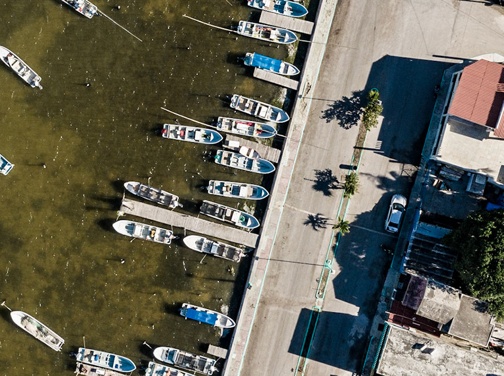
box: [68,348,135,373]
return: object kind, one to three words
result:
boat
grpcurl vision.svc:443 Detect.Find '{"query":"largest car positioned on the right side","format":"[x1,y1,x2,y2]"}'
[383,194,406,234]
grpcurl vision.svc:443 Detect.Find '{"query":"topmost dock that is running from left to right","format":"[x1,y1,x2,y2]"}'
[259,10,315,35]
